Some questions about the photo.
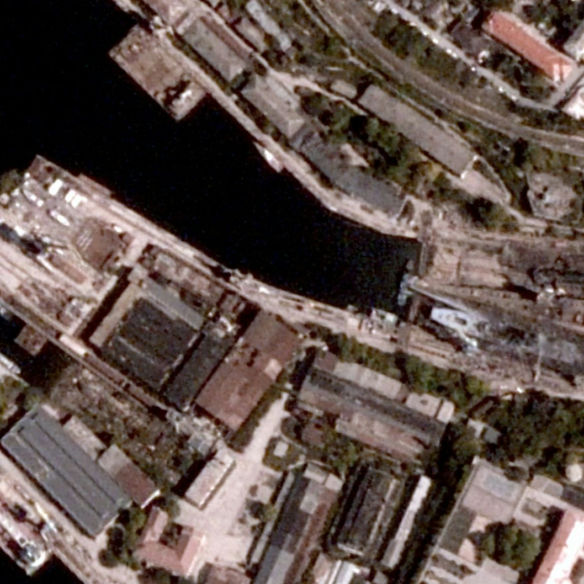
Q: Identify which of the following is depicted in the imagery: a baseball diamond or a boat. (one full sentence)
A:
There is a boat in the scene.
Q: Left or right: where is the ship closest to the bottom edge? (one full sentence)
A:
The ship closest to the bottom edge sits on the left side.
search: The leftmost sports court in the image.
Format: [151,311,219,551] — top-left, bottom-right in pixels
[481,472,518,500]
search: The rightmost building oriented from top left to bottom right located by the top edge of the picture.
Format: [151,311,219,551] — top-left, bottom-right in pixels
[485,11,576,82]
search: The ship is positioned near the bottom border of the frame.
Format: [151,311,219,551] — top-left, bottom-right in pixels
[0,499,51,576]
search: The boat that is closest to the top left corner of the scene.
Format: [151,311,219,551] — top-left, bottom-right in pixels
[23,189,42,201]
